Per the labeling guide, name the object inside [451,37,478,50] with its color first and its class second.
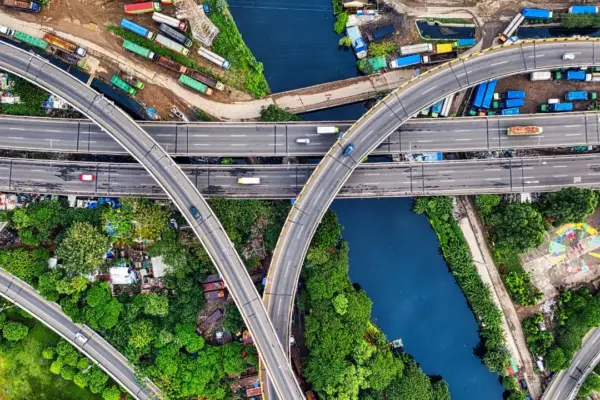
blue vehicle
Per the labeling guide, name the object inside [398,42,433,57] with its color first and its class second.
white vehicle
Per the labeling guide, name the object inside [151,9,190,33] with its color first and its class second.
white truck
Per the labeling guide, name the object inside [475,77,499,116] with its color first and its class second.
blue truck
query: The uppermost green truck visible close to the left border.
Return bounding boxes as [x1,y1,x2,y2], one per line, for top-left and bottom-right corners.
[0,23,51,50]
